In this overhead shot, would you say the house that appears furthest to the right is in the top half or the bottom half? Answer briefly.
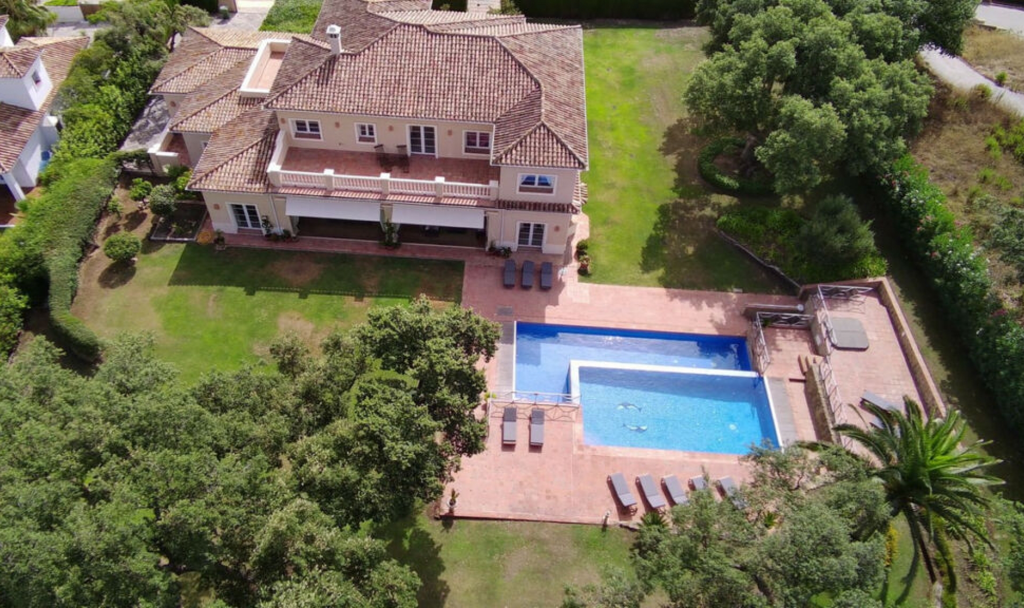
top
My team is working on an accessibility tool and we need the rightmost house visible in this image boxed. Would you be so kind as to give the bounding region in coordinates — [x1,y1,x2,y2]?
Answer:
[147,0,591,254]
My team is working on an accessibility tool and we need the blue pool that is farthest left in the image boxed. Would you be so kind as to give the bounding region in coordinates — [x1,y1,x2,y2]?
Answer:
[510,322,785,455]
